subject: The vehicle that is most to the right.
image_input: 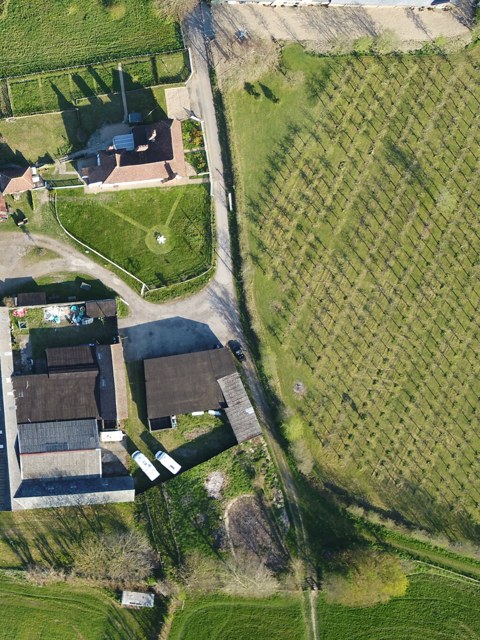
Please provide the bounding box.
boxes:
[229,342,245,363]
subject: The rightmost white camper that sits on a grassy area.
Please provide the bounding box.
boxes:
[153,447,180,476]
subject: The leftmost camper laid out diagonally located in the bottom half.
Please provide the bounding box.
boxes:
[129,448,158,483]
